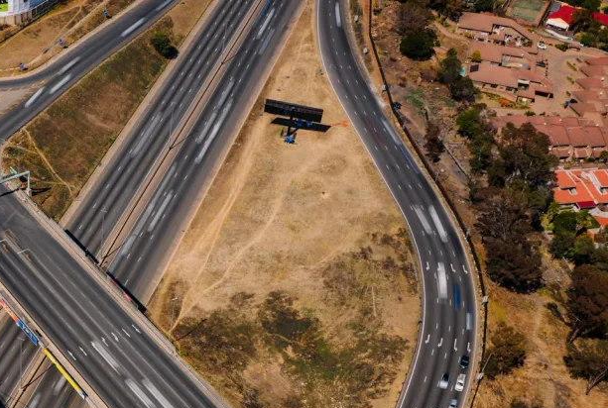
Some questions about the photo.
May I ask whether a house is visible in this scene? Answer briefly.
Yes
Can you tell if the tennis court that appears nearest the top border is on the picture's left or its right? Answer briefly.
right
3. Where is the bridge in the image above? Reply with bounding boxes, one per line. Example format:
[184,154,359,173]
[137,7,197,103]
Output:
[0,184,199,408]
